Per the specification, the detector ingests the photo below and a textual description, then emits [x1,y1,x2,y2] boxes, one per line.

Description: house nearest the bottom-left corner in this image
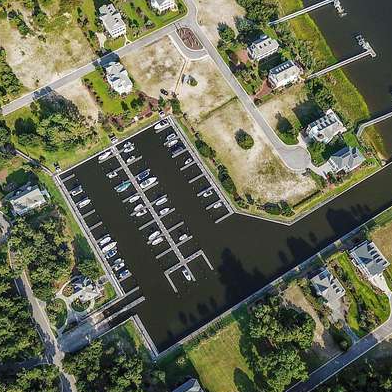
[70,272,109,304]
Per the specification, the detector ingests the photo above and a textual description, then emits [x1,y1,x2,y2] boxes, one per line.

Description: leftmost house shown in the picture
[3,182,51,216]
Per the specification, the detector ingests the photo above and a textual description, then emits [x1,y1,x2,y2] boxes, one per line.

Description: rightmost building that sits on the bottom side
[345,238,387,275]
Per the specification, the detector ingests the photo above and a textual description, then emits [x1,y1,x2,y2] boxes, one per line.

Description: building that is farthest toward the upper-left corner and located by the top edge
[98,1,129,43]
